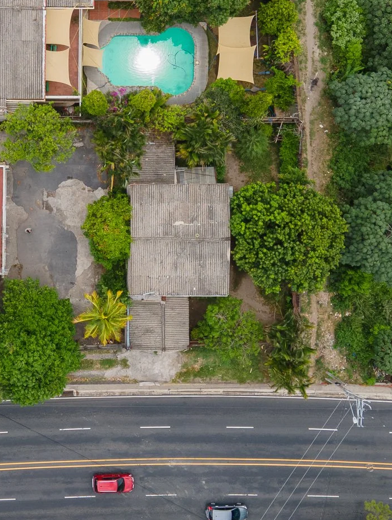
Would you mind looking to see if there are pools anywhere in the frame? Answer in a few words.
Yes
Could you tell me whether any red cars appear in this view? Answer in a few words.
Yes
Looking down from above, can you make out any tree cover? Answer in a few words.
Yes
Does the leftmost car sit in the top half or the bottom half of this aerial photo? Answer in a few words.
bottom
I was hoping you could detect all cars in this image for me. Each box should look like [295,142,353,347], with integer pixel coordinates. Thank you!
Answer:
[206,500,246,520]
[92,471,133,494]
